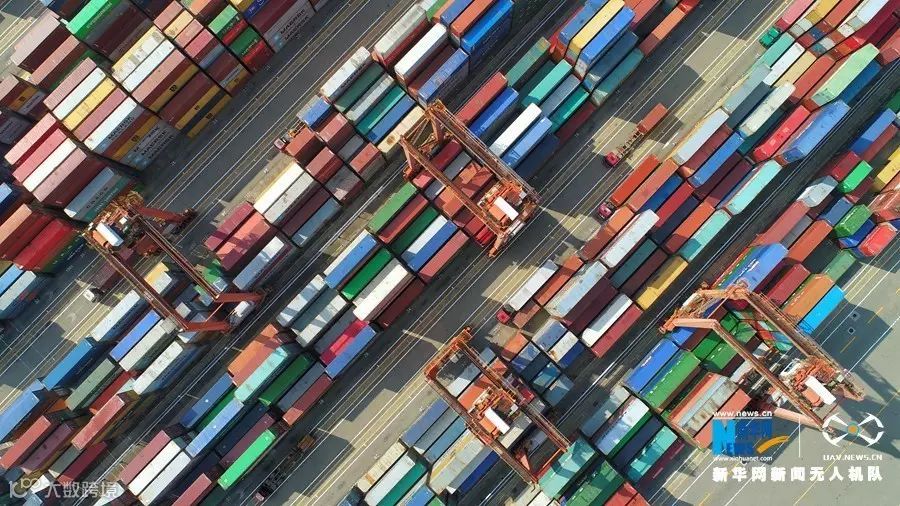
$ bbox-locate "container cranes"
[84,191,273,339]
[658,278,877,438]
[395,98,551,257]
[418,322,577,492]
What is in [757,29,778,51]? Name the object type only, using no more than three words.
truck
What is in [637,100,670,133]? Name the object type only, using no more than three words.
shipping container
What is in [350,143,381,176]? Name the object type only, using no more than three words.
shipping container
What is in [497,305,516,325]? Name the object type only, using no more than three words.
vehicle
